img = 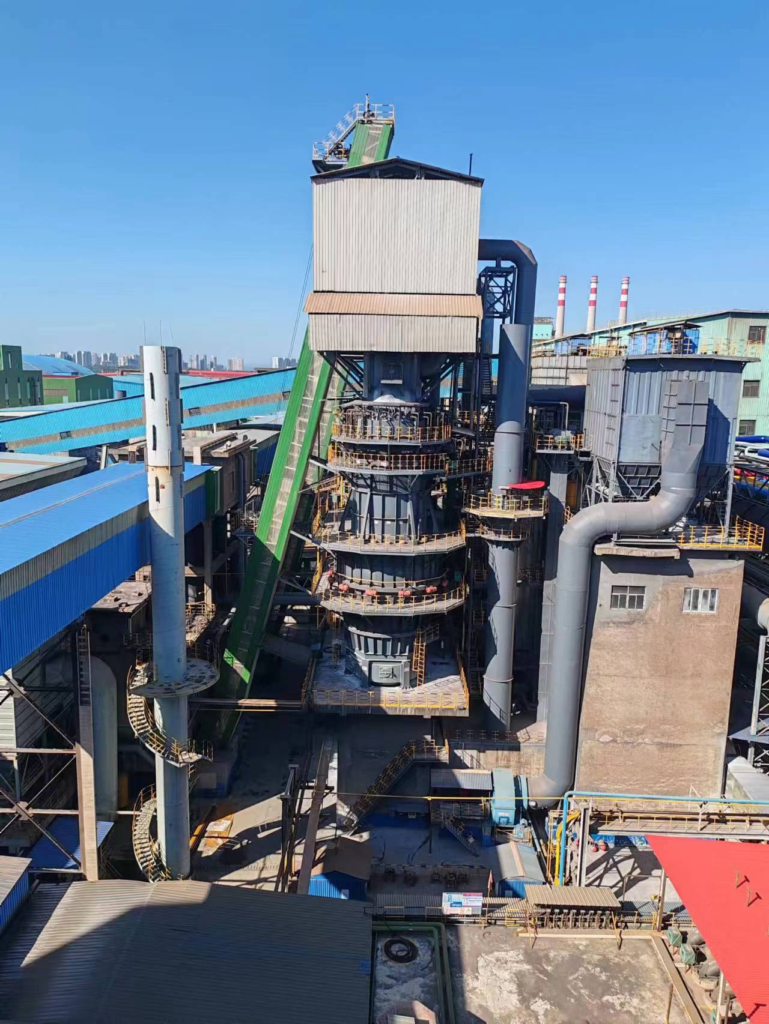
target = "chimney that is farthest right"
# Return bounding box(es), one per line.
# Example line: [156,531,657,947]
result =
[616,277,630,328]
